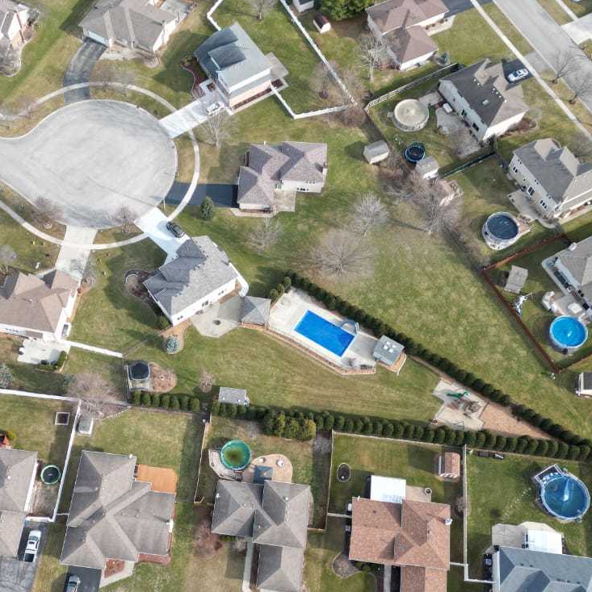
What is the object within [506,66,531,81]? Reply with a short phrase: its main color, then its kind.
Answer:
white car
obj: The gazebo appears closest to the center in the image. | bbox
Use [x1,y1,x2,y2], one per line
[240,294,270,329]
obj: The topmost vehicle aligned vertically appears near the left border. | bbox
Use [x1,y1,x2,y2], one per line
[22,529,40,564]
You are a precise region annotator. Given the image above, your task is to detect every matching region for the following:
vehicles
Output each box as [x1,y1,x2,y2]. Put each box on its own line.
[22,529,40,564]
[203,100,224,114]
[165,218,187,239]
[64,575,78,592]
[506,66,531,81]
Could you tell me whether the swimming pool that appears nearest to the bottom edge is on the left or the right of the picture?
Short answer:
right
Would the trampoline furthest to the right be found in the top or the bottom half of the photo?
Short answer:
top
